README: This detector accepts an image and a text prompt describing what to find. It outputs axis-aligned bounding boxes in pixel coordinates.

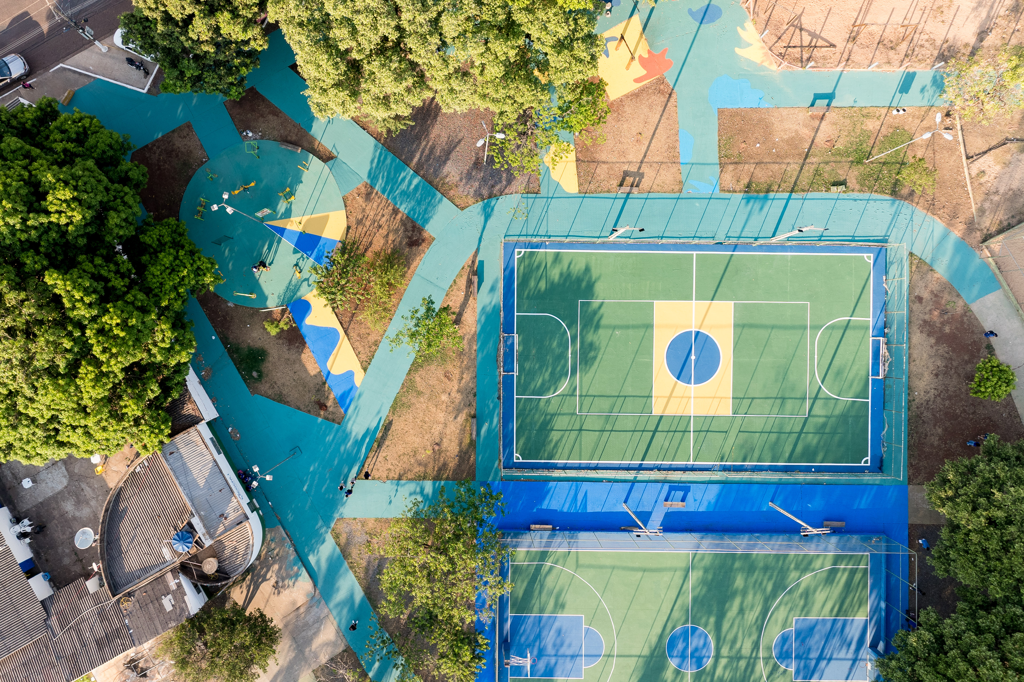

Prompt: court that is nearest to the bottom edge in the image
[498,535,881,682]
